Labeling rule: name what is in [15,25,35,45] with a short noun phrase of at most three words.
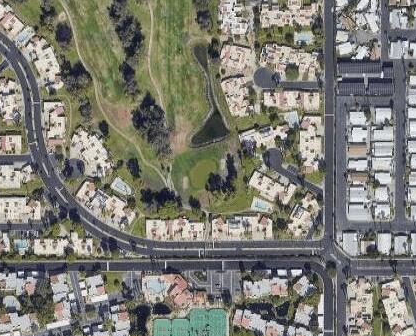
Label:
swimming pool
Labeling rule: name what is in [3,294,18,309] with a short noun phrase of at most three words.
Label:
swimming pool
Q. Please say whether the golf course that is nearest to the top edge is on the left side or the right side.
left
